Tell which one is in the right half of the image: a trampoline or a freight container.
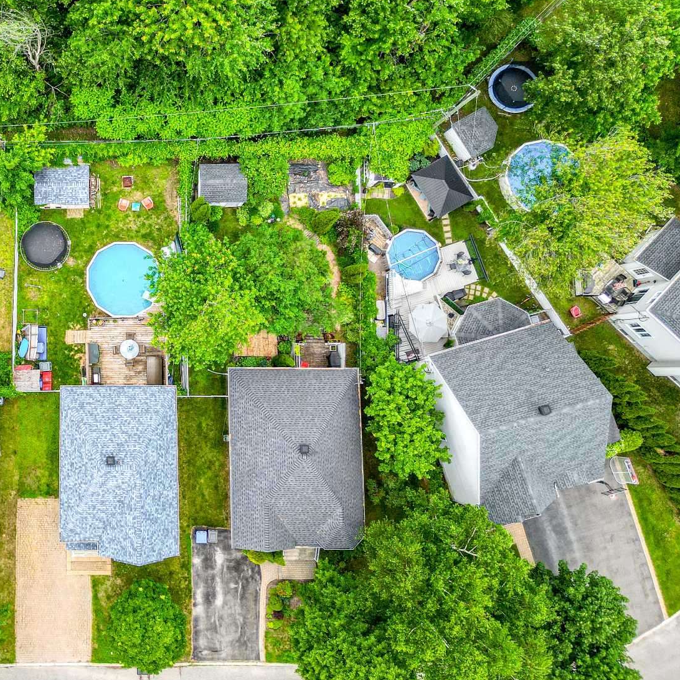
trampoline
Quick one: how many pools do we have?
three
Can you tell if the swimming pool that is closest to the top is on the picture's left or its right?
right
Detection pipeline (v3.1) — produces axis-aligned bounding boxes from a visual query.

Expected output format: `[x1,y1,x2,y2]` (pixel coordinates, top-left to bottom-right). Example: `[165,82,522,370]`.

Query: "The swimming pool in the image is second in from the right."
[382,228,440,283]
